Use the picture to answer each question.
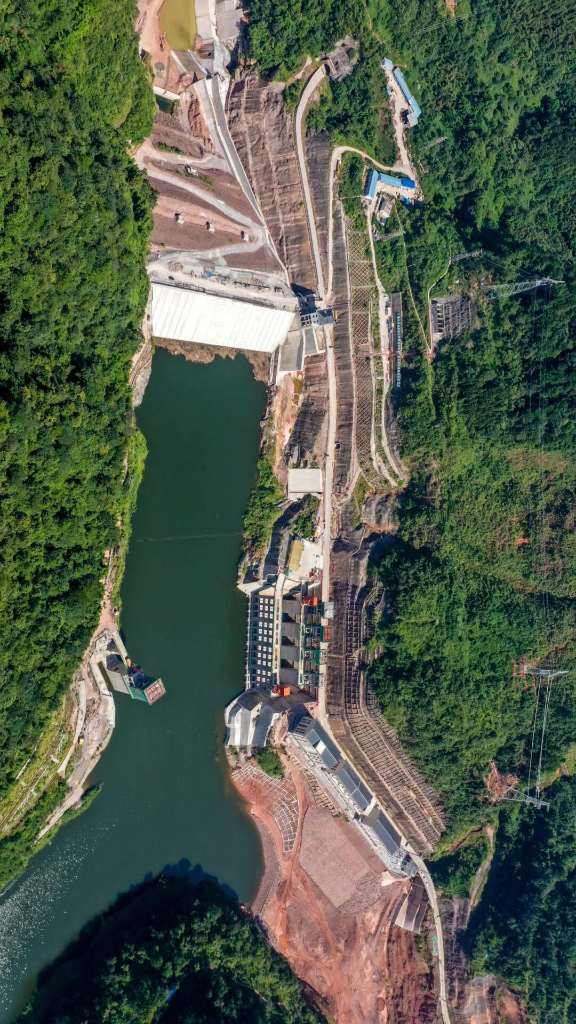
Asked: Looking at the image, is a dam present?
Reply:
Yes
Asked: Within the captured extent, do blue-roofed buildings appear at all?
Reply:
Yes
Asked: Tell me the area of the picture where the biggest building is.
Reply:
bottom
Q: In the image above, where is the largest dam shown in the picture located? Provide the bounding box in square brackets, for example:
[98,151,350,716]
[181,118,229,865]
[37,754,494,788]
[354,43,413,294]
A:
[132,113,298,352]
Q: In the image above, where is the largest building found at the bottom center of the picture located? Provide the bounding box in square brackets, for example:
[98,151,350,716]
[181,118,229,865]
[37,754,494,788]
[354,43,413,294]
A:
[290,715,401,859]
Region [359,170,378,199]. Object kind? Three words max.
building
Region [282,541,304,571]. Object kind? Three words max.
building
